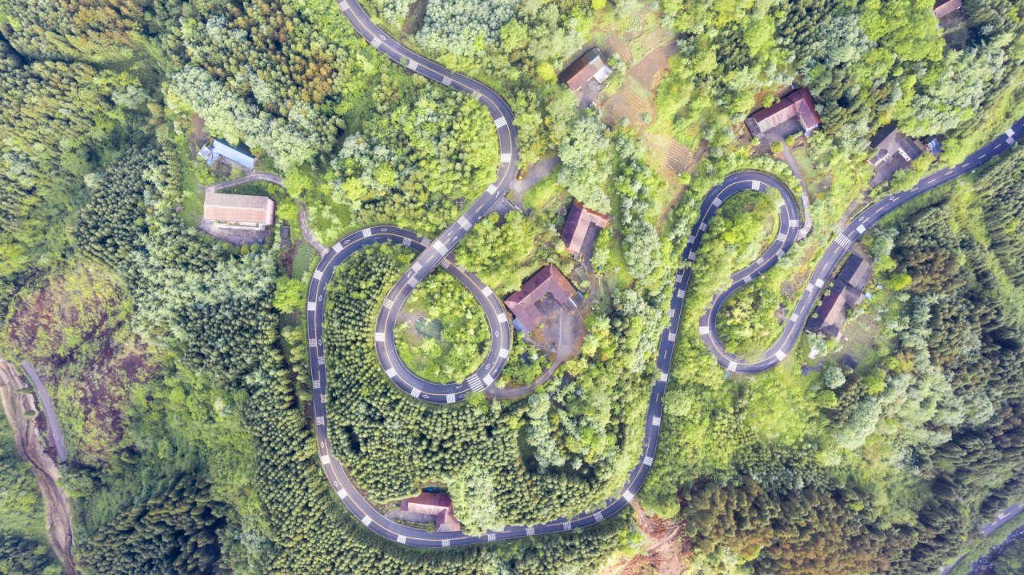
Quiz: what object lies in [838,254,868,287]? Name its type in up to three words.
house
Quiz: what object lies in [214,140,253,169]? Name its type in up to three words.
shed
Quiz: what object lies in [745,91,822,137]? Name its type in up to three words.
house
